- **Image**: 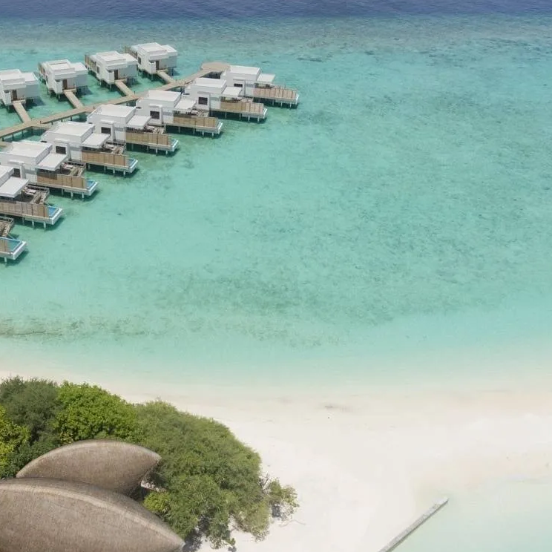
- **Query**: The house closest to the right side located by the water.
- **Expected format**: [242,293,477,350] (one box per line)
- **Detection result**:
[221,66,292,110]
